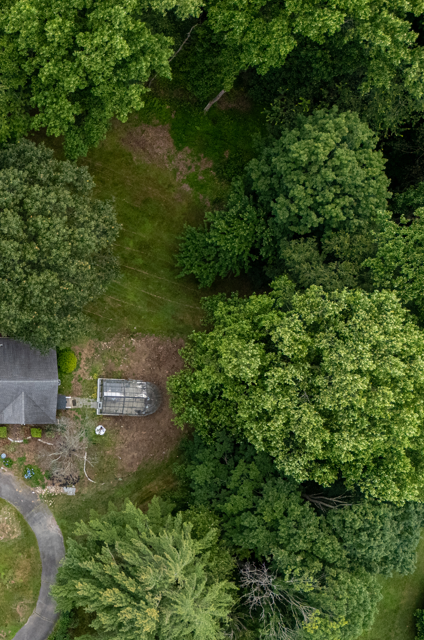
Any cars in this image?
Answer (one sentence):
No, there's no car here.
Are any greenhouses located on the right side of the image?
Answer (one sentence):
No, no greenhouse appears on the right side of the image.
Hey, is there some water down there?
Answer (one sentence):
No, there's no water in this view.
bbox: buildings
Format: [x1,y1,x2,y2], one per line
[0,336,67,426]
[95,378,160,418]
